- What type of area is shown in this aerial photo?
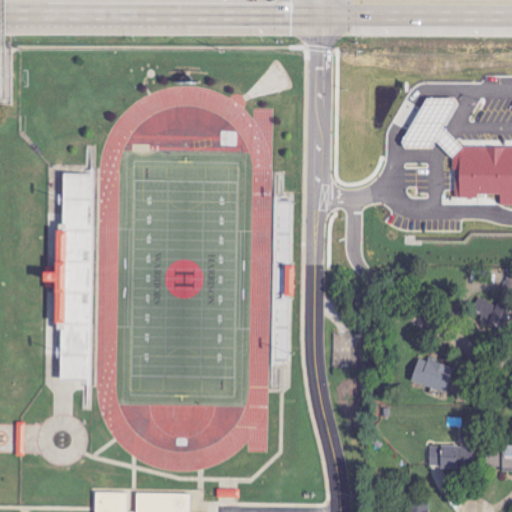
sports ground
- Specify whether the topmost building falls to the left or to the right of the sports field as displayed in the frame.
on the right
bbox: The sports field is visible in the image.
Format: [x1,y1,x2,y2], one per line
[117,152,252,406]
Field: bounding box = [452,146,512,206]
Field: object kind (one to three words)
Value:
building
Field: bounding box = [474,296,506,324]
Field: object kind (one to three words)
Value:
house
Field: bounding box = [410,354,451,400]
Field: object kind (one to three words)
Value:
house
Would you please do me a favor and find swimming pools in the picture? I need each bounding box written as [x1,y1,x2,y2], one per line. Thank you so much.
[446,416,462,428]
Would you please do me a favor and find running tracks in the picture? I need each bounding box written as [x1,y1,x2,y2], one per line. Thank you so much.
[97,86,273,472]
